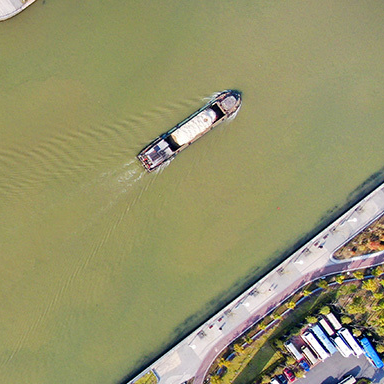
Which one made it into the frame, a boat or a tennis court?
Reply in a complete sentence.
Looking from above, you can make out a boat.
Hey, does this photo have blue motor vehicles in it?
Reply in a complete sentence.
Yes, the image includes a blue motor vehicle.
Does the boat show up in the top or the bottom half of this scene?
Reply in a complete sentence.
The top half of the photo is where the boat is.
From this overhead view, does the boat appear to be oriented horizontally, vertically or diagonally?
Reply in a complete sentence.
I'd say the boat is aligned diagonally in the picture.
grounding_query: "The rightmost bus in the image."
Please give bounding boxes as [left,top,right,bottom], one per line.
[356,337,384,367]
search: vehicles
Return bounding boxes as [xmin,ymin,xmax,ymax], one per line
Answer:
[299,359,309,372]
[306,324,335,354]
[277,373,287,384]
[299,345,317,366]
[356,337,384,367]
[282,341,303,361]
[298,331,330,360]
[284,368,293,380]
[323,312,342,330]
[334,327,362,359]
[330,336,351,359]
[315,317,333,337]
[270,379,279,384]
[331,374,354,384]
